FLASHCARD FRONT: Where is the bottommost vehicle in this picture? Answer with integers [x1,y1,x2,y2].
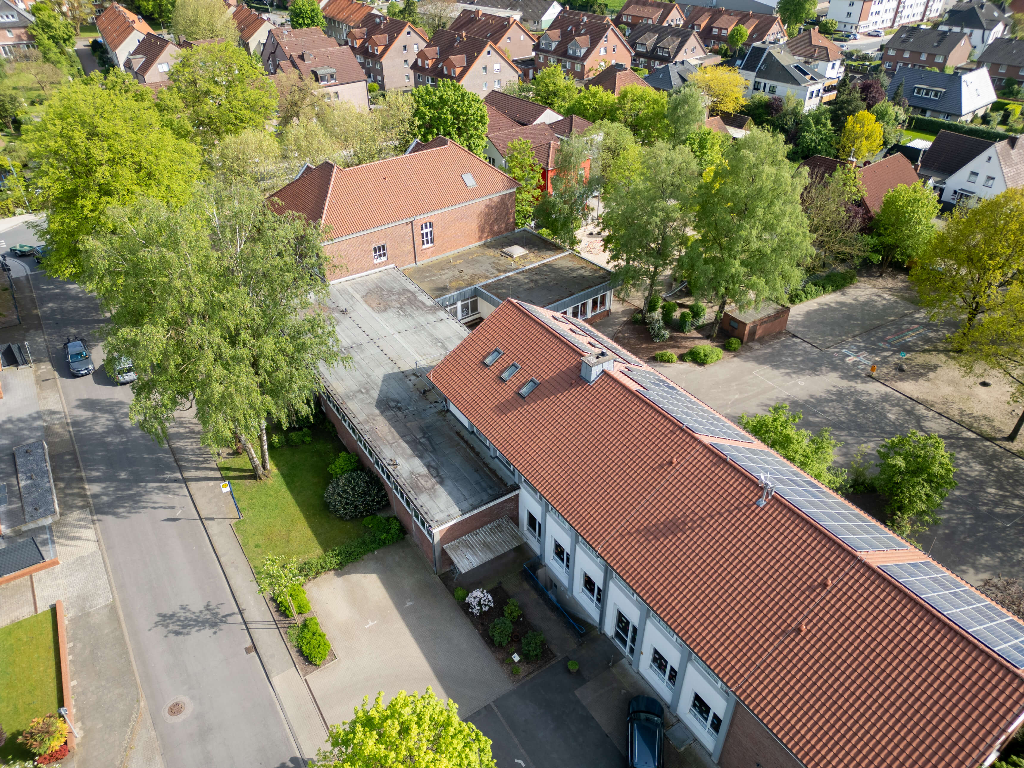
[625,693,676,768]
